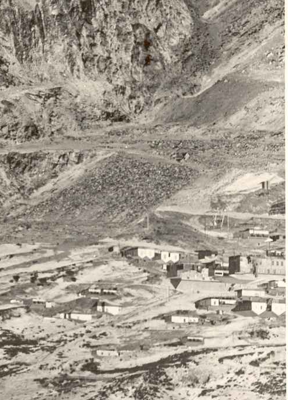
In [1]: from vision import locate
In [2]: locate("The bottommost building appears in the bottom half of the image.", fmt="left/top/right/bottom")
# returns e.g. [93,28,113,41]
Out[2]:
[91,348,120,364]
